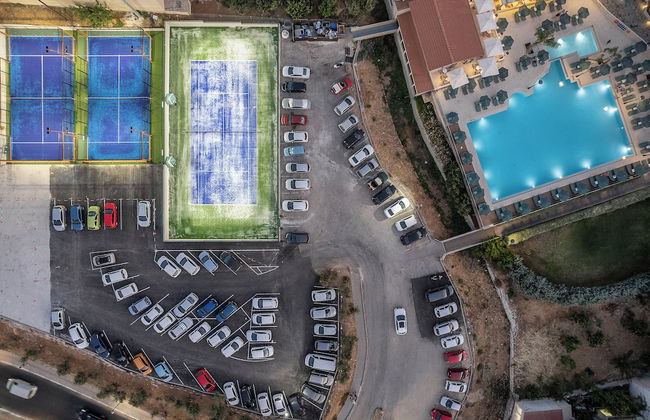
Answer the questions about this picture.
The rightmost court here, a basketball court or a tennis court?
tennis court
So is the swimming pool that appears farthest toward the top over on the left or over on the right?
right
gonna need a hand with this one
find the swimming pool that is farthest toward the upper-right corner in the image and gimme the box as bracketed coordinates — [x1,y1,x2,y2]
[542,27,602,60]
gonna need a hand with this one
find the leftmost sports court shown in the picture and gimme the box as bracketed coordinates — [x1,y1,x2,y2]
[0,25,74,161]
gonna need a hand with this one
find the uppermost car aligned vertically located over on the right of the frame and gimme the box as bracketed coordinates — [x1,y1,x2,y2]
[394,307,408,335]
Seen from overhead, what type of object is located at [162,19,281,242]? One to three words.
tennis court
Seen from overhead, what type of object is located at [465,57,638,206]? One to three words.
swimming pool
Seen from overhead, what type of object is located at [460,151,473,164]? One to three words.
umbrella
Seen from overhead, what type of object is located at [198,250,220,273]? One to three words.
car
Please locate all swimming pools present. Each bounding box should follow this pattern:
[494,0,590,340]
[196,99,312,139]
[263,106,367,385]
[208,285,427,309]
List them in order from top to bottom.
[542,27,602,60]
[465,57,638,206]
